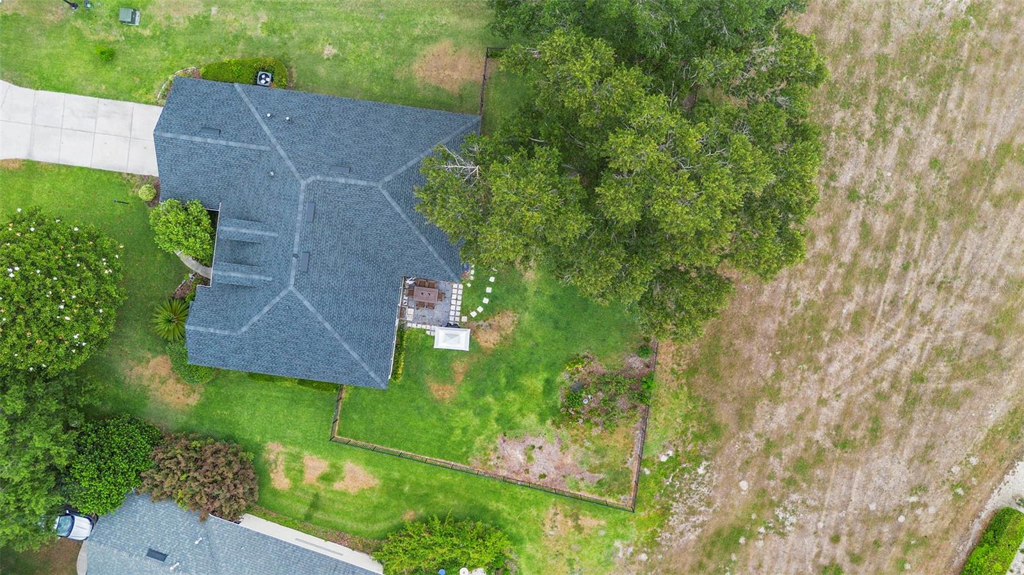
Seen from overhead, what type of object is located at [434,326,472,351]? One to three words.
gazebo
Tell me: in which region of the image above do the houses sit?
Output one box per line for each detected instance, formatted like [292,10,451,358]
[87,490,385,575]
[155,76,482,391]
